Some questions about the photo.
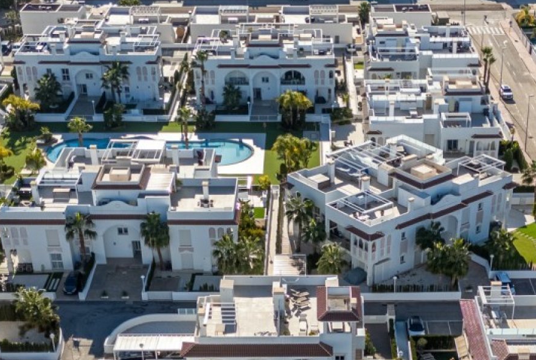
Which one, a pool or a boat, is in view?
pool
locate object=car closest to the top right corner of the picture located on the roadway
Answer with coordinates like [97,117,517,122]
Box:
[501,82,513,96]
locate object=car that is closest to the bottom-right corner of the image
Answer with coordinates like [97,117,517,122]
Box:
[497,273,517,292]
